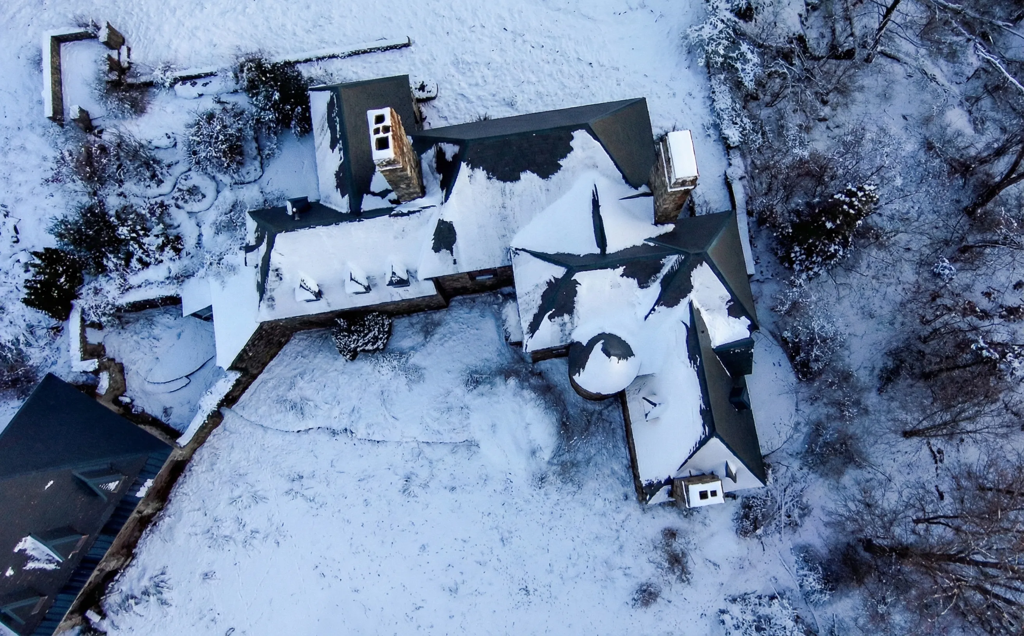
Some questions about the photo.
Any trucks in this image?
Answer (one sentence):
No, no truck is visible in the view.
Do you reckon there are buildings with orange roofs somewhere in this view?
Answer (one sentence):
No, there is no building with an orange roof in the image.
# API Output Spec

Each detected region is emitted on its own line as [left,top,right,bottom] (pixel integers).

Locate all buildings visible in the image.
[0,373,198,636]
[181,72,767,509]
